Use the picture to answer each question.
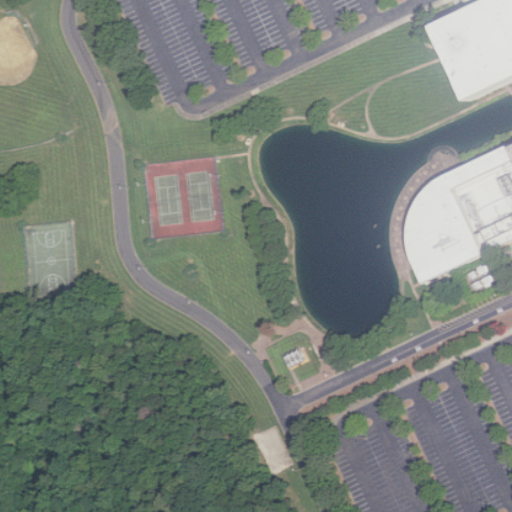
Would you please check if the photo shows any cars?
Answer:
No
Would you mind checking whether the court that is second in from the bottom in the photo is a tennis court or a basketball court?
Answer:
basketball court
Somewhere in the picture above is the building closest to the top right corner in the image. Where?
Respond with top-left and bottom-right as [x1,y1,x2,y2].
[424,0,512,105]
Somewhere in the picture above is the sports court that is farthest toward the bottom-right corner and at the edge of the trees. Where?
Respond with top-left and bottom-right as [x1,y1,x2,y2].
[253,426,294,474]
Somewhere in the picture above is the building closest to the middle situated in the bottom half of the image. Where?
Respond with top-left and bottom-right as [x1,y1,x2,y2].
[283,347,310,372]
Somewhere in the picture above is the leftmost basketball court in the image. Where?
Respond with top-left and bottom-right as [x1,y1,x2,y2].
[24,220,78,300]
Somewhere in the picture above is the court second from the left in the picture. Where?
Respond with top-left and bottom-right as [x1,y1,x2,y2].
[146,162,188,238]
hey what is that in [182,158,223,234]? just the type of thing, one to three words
tennis court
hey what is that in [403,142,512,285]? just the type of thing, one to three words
building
